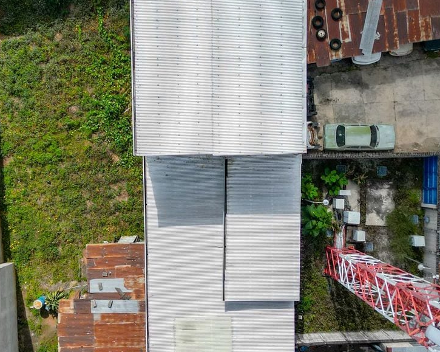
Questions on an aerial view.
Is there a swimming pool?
No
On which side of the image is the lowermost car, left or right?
right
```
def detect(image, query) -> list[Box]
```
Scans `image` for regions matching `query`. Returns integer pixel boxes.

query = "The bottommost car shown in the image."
[323,121,394,152]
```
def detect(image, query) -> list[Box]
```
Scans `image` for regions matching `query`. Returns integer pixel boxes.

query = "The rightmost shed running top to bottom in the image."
[415,156,438,208]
